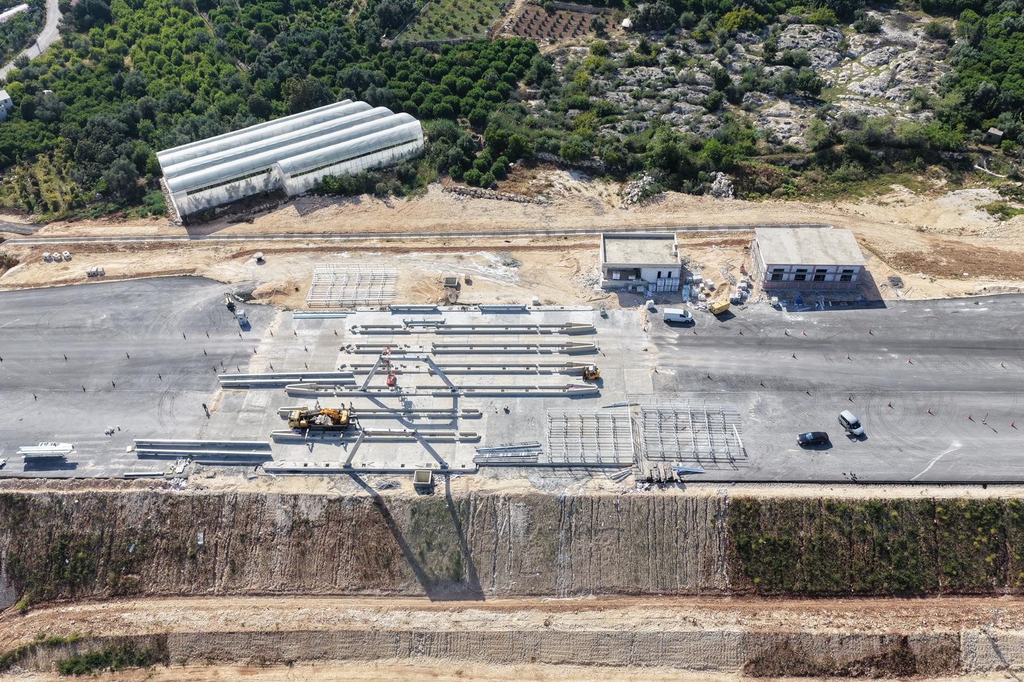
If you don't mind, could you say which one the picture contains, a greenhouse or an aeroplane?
greenhouse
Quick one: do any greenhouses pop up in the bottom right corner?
No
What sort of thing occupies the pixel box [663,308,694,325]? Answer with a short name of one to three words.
vehicle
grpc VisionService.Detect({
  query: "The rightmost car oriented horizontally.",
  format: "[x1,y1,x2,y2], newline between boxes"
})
[797,433,832,449]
